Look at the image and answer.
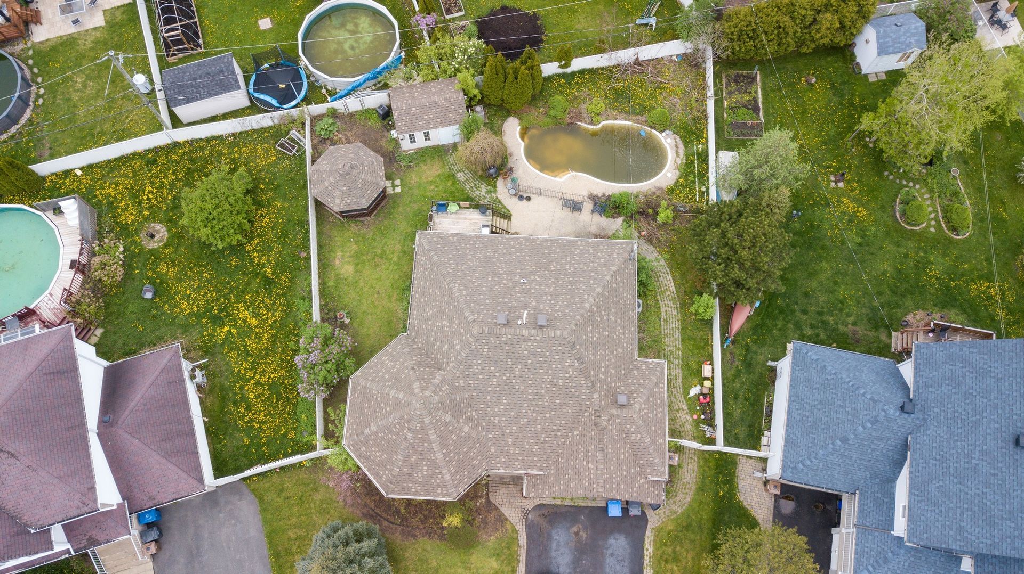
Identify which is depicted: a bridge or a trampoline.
trampoline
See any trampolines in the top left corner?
Yes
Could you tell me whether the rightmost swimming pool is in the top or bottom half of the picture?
top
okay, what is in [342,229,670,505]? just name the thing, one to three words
house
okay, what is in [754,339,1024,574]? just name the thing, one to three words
house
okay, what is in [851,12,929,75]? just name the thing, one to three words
shed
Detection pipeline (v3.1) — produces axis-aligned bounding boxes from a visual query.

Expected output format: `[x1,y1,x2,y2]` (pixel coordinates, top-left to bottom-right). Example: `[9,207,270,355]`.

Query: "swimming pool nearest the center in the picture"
[515,119,673,187]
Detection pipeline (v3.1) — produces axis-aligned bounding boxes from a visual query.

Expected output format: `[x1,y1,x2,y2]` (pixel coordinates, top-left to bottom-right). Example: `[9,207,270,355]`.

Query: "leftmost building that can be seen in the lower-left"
[0,320,215,574]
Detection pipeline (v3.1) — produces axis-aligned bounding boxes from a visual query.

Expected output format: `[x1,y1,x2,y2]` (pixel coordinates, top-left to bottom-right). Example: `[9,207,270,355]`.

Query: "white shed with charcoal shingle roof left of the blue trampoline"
[159,52,249,123]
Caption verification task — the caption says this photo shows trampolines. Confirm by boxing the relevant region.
[248,45,310,111]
